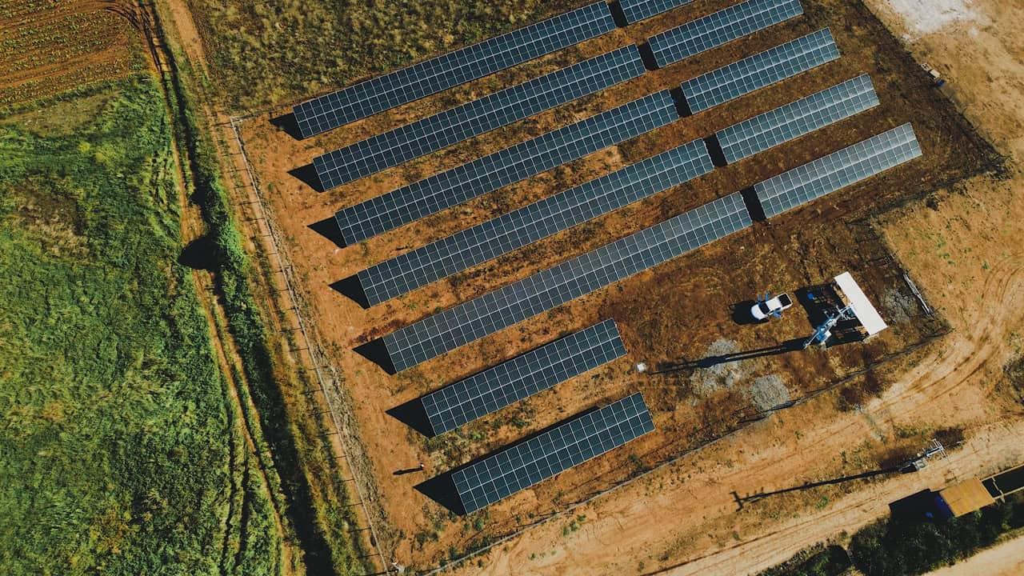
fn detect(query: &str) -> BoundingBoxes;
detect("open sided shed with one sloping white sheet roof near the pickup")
[824,272,888,340]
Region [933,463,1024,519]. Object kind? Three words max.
building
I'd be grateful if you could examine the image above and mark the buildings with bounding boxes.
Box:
[933,463,1024,519]
[824,272,888,340]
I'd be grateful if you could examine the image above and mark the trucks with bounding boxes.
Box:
[748,293,795,325]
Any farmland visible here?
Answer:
Yes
